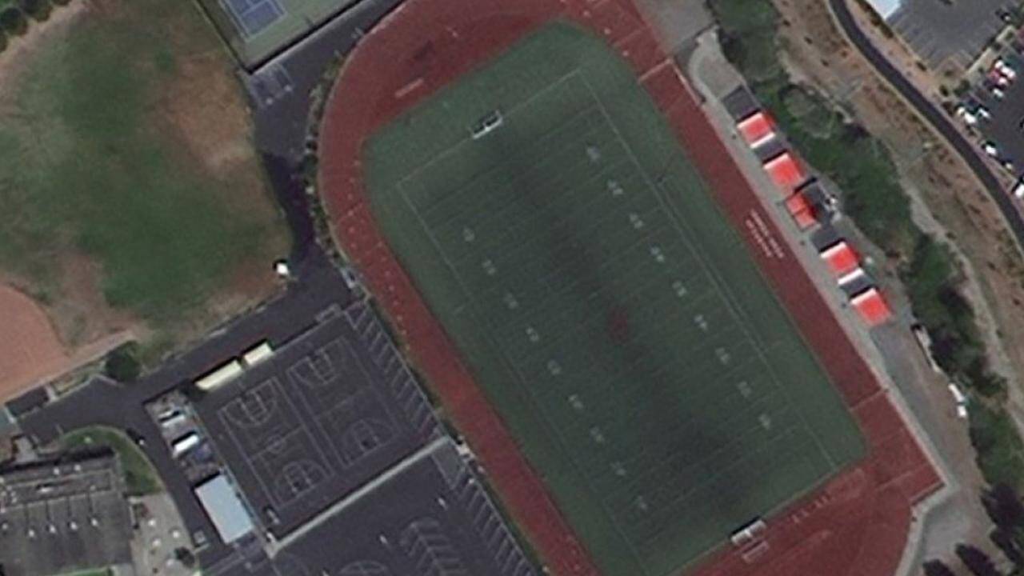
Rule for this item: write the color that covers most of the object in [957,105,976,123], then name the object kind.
white car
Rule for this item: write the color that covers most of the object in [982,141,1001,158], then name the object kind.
white car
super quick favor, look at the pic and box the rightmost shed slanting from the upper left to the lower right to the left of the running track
[195,474,254,546]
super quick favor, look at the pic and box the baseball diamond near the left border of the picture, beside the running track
[0,0,288,405]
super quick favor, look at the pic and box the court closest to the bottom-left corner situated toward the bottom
[220,379,333,508]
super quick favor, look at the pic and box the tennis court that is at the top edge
[204,0,370,69]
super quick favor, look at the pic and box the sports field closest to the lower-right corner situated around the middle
[359,18,869,576]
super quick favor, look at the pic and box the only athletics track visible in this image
[318,0,944,576]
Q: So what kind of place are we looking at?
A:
sports ground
